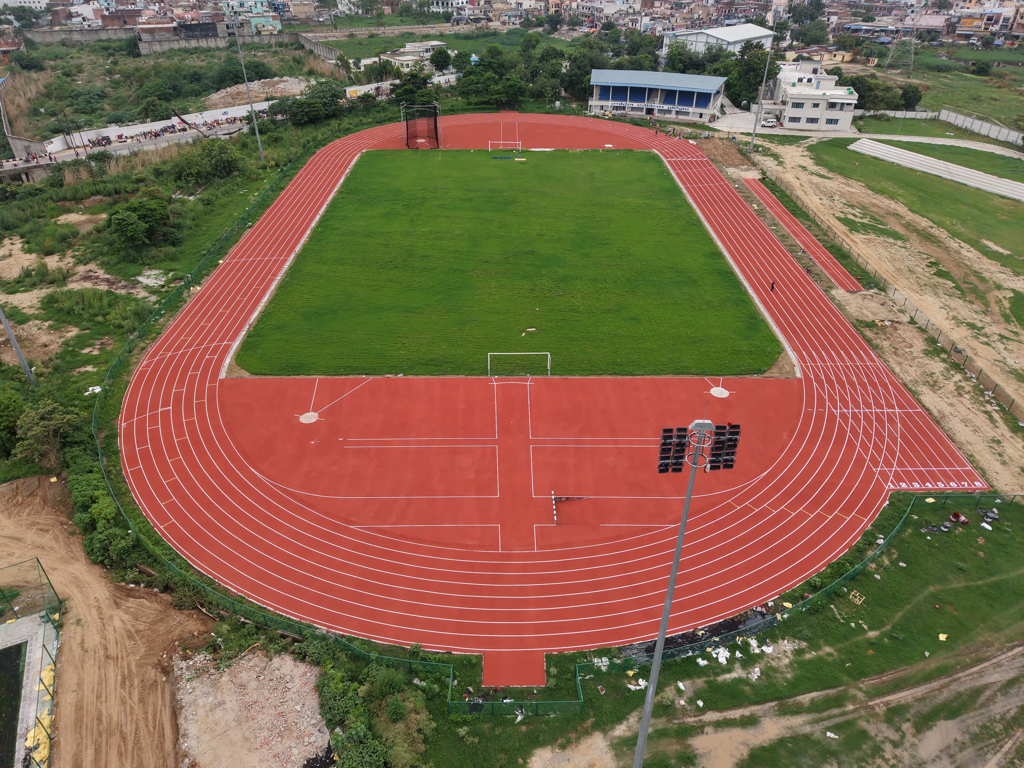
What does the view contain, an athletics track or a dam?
athletics track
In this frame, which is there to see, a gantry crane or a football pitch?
football pitch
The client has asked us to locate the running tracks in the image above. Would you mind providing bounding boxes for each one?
[118,111,1005,686]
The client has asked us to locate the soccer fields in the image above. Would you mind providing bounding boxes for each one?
[236,150,784,375]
